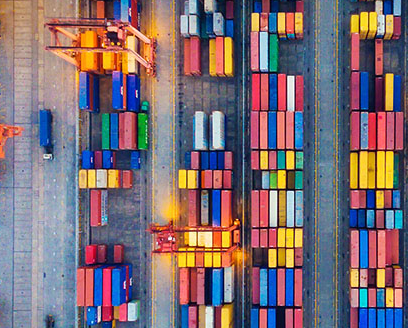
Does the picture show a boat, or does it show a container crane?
container crane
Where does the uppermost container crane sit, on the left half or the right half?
left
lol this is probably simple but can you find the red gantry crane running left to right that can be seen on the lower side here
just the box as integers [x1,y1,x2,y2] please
[149,217,240,258]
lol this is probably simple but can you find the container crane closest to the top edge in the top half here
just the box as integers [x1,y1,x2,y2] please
[43,19,153,73]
